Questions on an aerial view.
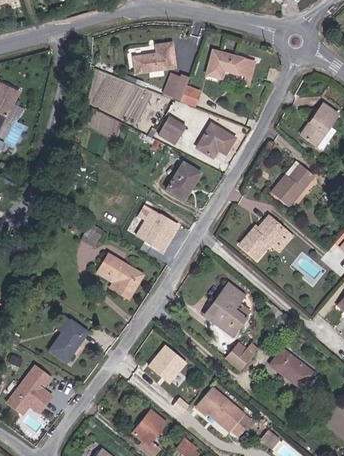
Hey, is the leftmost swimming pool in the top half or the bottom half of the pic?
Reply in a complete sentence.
Seen from above, the leftmost swimming pool lies in the top half of the view.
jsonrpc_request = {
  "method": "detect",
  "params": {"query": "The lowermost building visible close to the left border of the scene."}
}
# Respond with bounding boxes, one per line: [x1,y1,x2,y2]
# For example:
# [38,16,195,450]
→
[6,364,55,414]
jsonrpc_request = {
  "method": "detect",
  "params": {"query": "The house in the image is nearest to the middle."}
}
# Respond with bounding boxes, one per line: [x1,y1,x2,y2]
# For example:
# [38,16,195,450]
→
[128,201,182,256]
